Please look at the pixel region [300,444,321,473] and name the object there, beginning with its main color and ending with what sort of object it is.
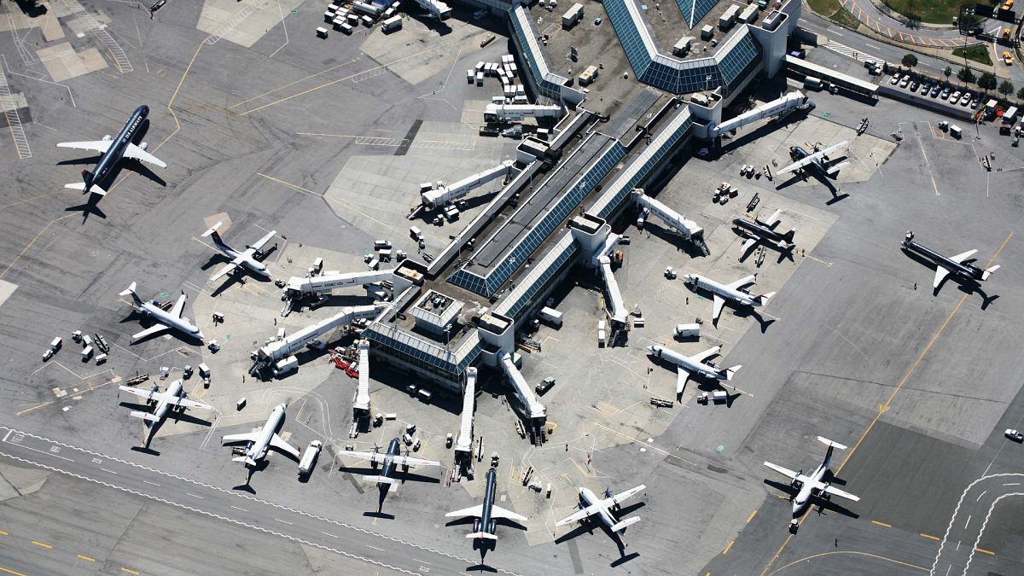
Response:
white truck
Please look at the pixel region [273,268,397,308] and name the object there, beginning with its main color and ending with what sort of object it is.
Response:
white jet bridge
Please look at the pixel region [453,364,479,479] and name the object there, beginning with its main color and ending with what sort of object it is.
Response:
white jet bridge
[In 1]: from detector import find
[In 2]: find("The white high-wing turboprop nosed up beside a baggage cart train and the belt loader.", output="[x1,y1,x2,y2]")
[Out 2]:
[118,378,212,430]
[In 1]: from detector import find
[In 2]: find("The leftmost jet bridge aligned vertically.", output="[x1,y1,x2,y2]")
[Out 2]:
[353,336,372,435]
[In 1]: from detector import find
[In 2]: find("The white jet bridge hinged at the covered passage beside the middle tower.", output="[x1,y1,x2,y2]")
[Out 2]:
[597,253,629,348]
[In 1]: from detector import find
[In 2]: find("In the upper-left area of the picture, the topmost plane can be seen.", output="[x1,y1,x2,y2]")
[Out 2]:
[56,108,169,196]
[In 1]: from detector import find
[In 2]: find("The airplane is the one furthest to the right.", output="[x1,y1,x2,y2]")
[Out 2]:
[902,241,1001,287]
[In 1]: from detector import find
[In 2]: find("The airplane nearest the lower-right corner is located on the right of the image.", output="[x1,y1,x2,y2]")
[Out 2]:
[764,438,861,512]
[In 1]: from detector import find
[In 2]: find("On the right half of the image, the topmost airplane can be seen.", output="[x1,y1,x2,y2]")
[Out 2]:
[775,139,849,181]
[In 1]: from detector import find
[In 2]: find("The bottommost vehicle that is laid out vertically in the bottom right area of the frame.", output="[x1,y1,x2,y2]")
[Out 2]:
[788,513,800,536]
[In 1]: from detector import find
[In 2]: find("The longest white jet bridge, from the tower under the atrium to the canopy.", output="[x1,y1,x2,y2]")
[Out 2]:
[703,89,814,150]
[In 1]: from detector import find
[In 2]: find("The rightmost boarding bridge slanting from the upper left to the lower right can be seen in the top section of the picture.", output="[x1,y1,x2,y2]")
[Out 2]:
[630,184,708,257]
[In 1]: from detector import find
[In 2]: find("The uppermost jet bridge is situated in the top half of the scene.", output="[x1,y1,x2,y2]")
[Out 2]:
[418,0,448,35]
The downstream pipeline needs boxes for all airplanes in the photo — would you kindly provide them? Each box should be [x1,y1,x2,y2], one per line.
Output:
[775,139,849,181]
[554,484,647,537]
[902,241,1001,287]
[648,345,741,393]
[764,438,861,512]
[338,437,441,493]
[733,210,802,253]
[56,108,169,196]
[445,468,527,545]
[118,378,212,430]
[120,283,203,341]
[203,222,277,280]
[684,273,775,319]
[220,405,299,466]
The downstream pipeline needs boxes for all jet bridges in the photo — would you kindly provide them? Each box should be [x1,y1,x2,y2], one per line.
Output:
[479,102,561,129]
[425,157,516,223]
[255,304,382,385]
[273,268,397,308]
[630,184,708,257]
[418,0,448,35]
[703,89,814,150]
[501,348,545,446]
[597,253,629,348]
[353,336,372,435]
[453,364,479,479]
